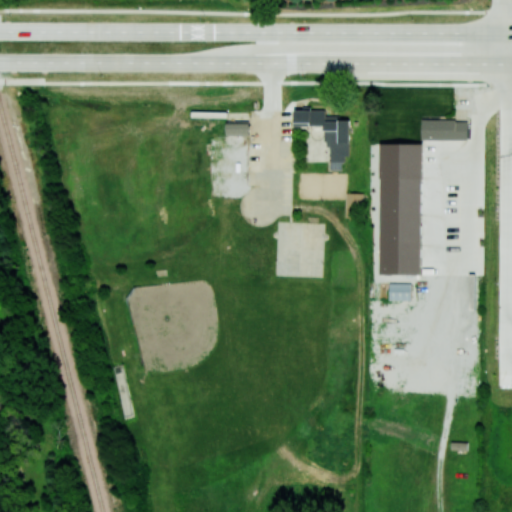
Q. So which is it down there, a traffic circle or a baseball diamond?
baseball diamond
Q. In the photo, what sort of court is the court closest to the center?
basketball court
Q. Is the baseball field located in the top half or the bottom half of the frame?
bottom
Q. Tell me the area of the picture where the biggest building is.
right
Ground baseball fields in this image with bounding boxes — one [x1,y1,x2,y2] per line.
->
[124,250,330,488]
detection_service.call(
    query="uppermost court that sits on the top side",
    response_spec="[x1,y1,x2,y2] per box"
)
[300,173,348,200]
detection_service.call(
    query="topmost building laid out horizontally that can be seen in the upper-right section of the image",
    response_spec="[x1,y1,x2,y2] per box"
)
[422,120,470,140]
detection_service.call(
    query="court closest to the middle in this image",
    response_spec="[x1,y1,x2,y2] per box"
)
[273,222,330,278]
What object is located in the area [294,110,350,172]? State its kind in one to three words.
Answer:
house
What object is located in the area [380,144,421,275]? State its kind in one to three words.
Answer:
building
